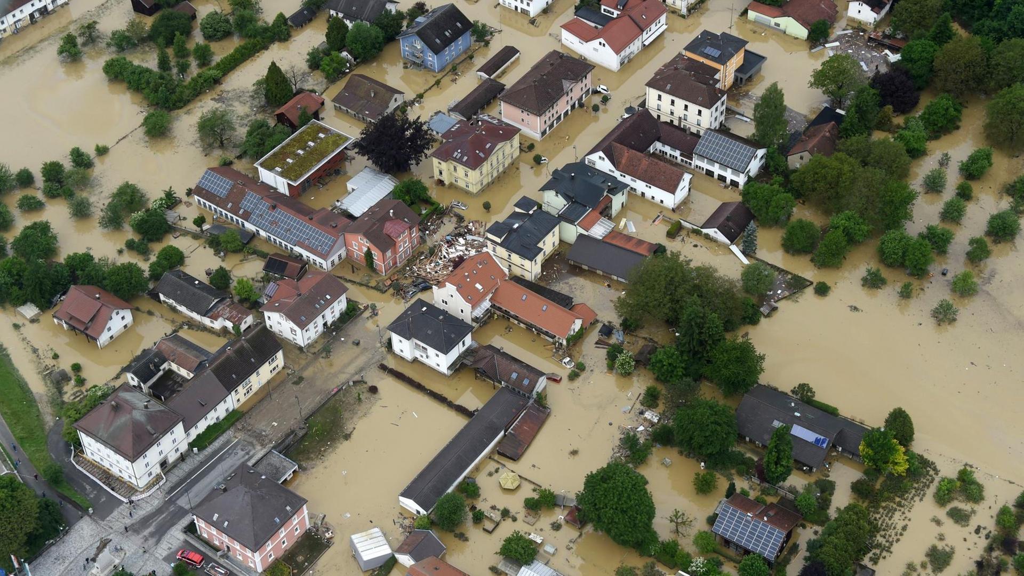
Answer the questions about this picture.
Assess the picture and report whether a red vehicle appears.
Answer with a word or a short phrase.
Yes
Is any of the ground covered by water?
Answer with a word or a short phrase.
Yes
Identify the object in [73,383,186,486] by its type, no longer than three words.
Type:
house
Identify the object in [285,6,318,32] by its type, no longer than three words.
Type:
shed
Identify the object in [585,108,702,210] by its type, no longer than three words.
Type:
building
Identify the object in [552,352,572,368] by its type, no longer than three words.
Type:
vehicle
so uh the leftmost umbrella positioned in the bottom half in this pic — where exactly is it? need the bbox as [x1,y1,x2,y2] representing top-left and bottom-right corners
[499,470,519,485]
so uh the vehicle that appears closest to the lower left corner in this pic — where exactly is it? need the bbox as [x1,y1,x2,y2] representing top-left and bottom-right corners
[179,550,202,566]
